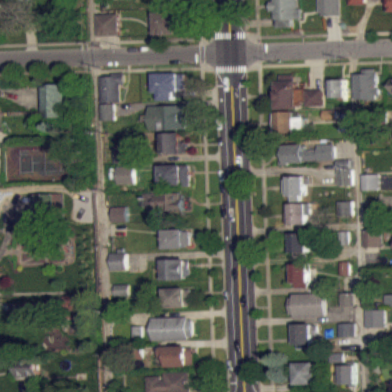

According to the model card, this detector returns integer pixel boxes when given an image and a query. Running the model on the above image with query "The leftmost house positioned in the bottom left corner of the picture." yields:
[8,364,43,380]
